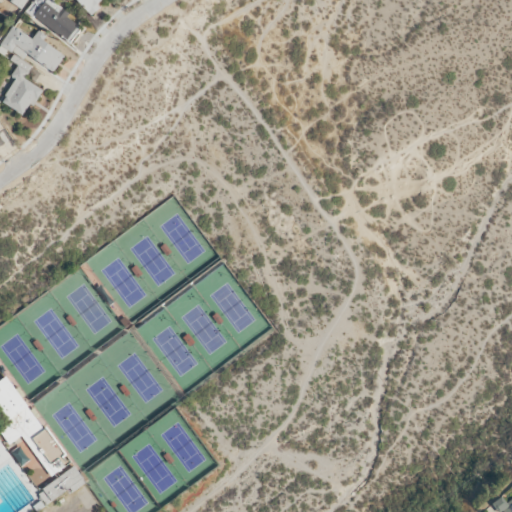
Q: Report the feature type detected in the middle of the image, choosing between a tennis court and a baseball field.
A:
tennis court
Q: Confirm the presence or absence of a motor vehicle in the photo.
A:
No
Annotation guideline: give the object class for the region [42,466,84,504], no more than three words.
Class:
building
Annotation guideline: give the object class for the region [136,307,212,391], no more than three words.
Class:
tennis court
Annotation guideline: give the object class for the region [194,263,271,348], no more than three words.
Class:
tennis court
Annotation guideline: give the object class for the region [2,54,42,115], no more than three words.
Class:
house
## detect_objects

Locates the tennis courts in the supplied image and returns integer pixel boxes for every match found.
[148,408,217,484]
[194,263,271,348]
[116,220,189,300]
[82,451,159,512]
[136,307,212,391]
[118,429,188,506]
[50,268,123,348]
[98,329,179,420]
[86,242,160,322]
[164,286,241,370]
[33,378,114,468]
[17,290,94,374]
[144,198,218,278]
[0,316,60,399]
[64,353,147,444]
